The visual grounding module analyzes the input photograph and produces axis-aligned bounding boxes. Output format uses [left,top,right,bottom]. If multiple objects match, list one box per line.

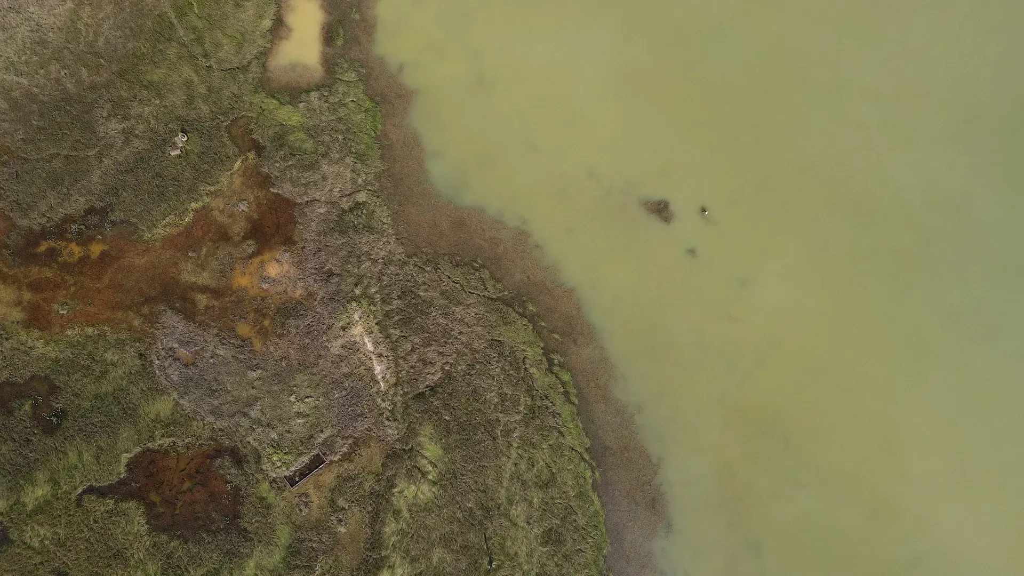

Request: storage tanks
[286,452,326,490]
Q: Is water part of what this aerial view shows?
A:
Yes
